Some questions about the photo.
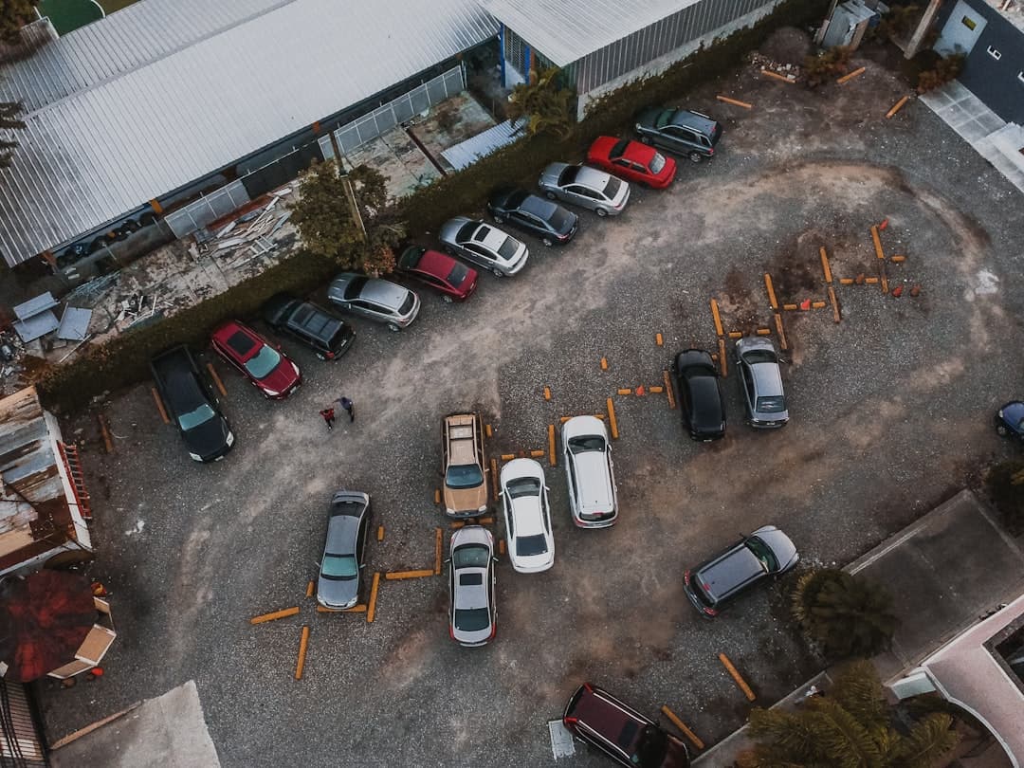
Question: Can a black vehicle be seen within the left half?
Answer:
Yes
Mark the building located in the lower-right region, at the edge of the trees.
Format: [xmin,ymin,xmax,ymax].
[909,589,1024,768]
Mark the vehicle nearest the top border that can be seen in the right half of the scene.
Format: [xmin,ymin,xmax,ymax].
[634,102,727,162]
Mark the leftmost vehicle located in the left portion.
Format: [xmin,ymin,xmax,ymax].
[152,348,234,468]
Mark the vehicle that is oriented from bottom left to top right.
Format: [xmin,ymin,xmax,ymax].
[682,524,800,625]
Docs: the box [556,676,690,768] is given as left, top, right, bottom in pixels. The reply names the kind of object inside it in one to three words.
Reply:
car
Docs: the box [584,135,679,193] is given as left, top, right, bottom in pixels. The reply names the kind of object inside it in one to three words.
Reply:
car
